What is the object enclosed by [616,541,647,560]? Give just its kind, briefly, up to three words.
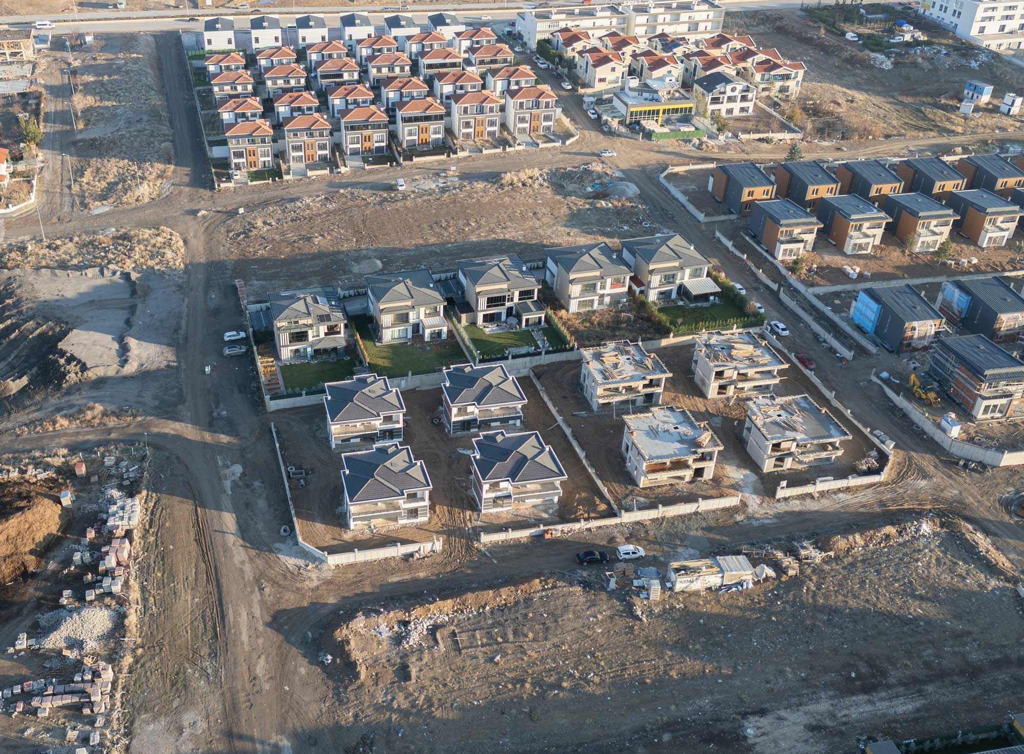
vehicle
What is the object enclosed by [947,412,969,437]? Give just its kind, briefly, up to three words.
building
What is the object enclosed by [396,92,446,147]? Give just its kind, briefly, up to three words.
house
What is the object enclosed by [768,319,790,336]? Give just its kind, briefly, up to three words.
car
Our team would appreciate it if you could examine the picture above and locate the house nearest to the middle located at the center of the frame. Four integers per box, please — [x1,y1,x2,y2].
[443,357,527,433]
